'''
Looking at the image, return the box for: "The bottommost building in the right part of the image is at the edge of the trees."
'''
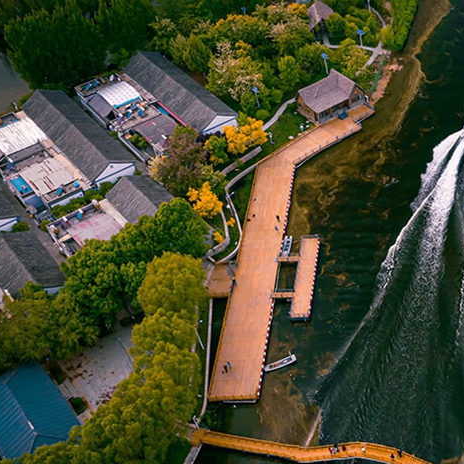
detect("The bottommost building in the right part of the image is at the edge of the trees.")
[290,70,368,128]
